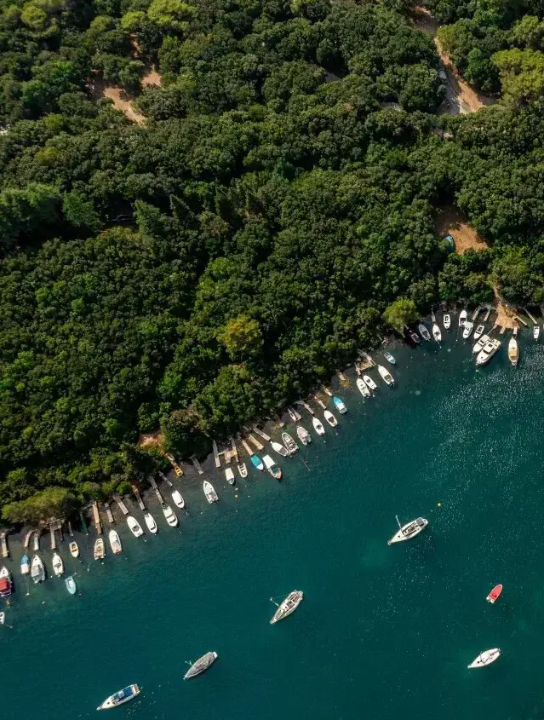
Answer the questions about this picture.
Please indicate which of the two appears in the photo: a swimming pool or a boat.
boat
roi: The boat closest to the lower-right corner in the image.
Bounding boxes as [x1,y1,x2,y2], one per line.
[467,645,500,667]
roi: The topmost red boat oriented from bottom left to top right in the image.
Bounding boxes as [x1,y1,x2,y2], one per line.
[487,584,501,604]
